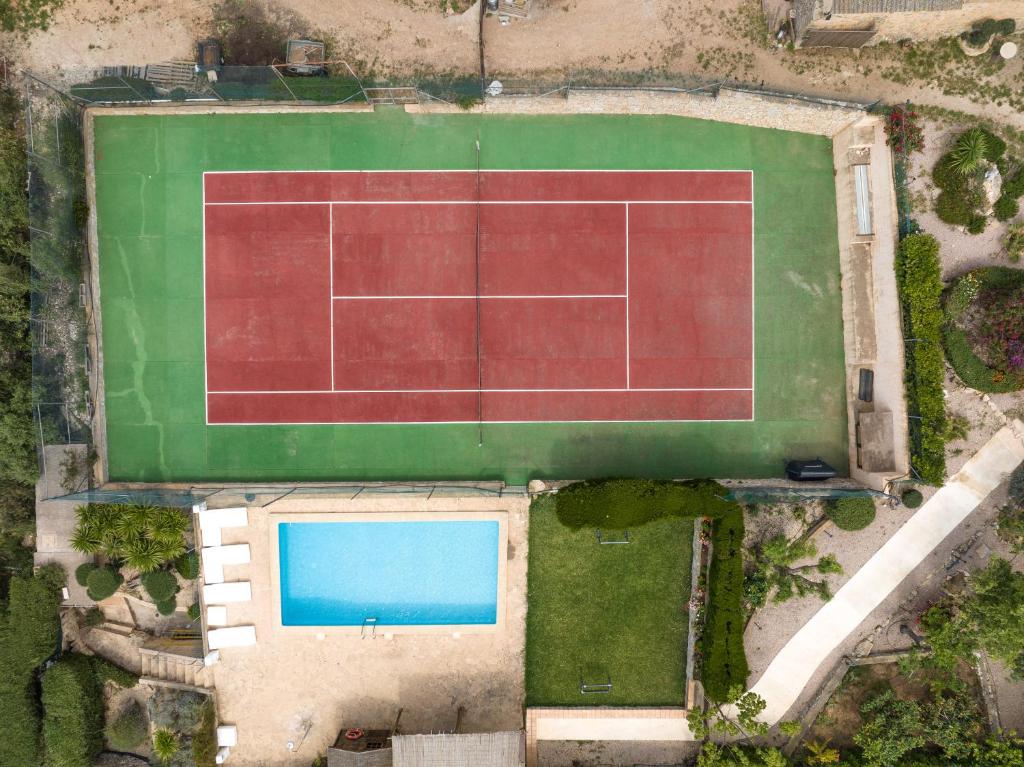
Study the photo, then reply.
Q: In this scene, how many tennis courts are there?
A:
one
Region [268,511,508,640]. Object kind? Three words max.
swimming pool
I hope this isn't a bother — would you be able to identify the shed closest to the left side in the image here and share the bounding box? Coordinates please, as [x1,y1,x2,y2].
[327,729,392,767]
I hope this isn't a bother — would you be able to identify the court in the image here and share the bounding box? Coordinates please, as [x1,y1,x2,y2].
[93,103,850,488]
